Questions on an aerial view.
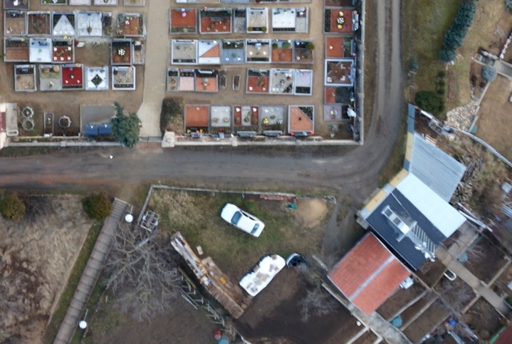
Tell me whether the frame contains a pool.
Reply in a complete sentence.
No, the photo shows no pool.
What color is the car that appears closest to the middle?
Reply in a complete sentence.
The color of the car that appears closest to the middle is white.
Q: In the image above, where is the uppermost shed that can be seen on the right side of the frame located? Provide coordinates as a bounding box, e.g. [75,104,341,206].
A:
[406,131,466,202]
